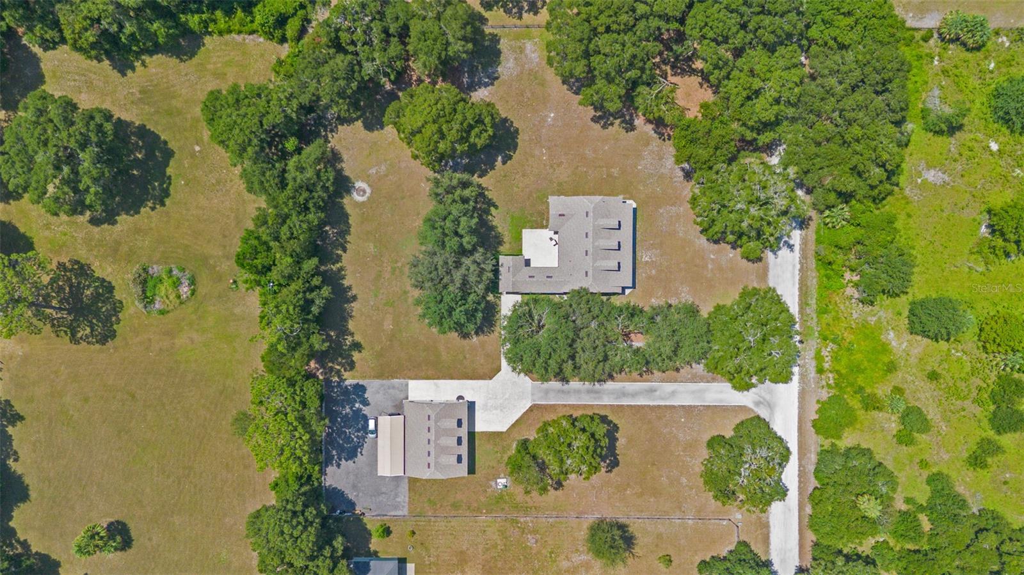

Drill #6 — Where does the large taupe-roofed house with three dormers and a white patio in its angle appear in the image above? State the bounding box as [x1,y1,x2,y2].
[499,194,633,293]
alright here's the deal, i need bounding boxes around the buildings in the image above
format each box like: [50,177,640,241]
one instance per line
[405,400,468,477]
[347,556,399,575]
[499,194,633,293]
